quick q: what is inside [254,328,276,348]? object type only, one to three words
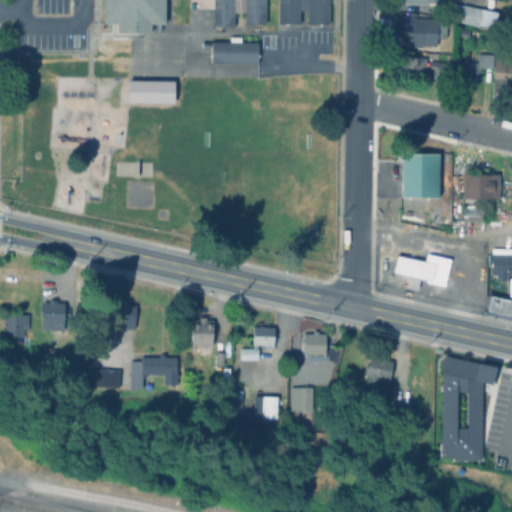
house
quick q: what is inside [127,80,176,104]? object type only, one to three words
building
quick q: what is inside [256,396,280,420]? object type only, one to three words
shed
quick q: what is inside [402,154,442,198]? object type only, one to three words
building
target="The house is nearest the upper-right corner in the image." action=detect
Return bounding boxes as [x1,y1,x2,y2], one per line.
[462,6,501,28]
